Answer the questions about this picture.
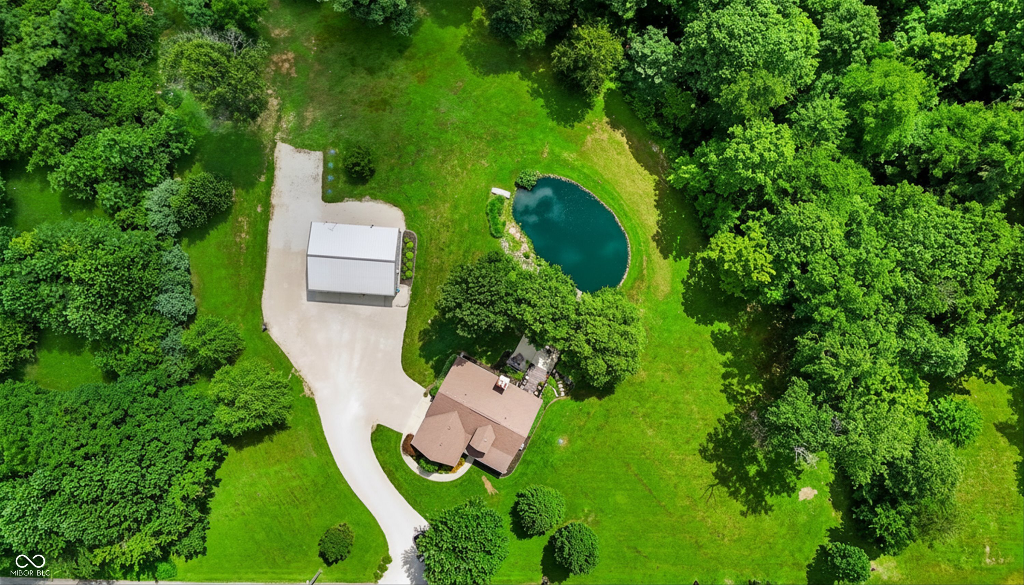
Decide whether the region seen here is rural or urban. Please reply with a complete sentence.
The area shown here is rural.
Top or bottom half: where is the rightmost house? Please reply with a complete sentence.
It is in the bottom half that the rightmost house appears.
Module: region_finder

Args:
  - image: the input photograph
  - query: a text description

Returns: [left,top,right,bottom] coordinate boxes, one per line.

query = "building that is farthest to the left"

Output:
[306,221,401,297]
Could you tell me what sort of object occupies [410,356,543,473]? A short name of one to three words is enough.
house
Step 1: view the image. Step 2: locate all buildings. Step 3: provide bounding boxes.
[410,356,543,473]
[306,221,401,297]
